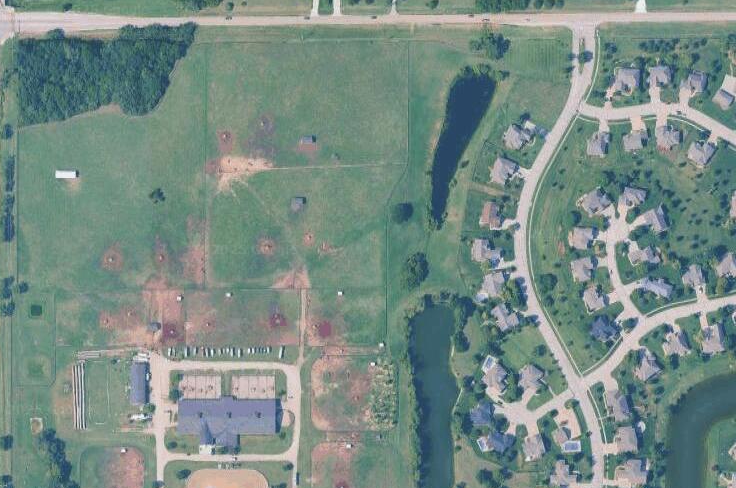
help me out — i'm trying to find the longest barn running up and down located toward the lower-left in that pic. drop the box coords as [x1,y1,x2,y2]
[130,362,146,405]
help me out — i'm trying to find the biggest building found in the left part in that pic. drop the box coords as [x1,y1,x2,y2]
[178,394,276,455]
